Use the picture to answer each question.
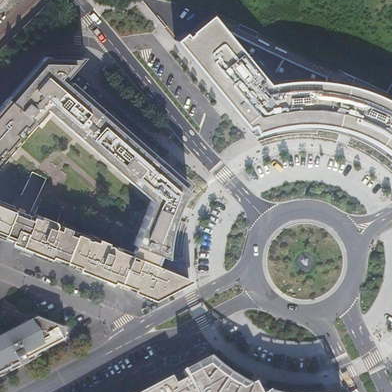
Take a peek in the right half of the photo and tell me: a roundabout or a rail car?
roundabout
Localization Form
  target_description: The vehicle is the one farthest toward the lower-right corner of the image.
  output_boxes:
[341,370,358,392]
